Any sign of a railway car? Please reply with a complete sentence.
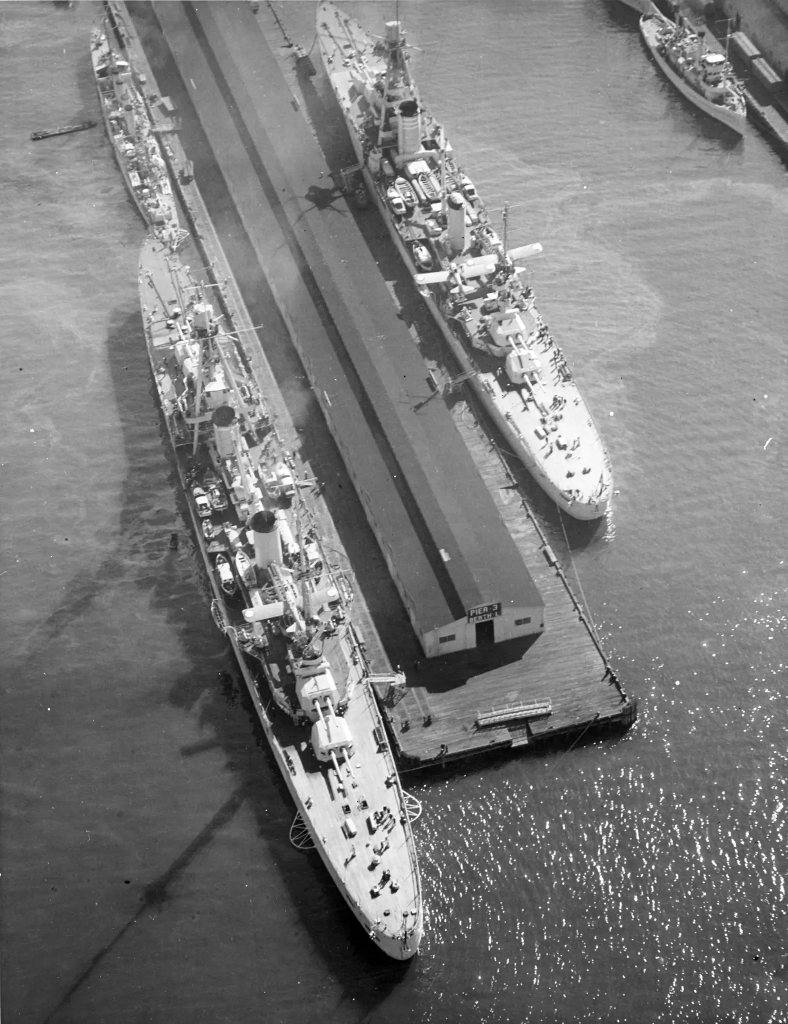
Yes, this view includes a railway car.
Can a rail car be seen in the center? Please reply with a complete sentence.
No, in the center there is no rail car.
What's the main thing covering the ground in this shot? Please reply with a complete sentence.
Most of the picture is covered by water.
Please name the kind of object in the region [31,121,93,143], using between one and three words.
boat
